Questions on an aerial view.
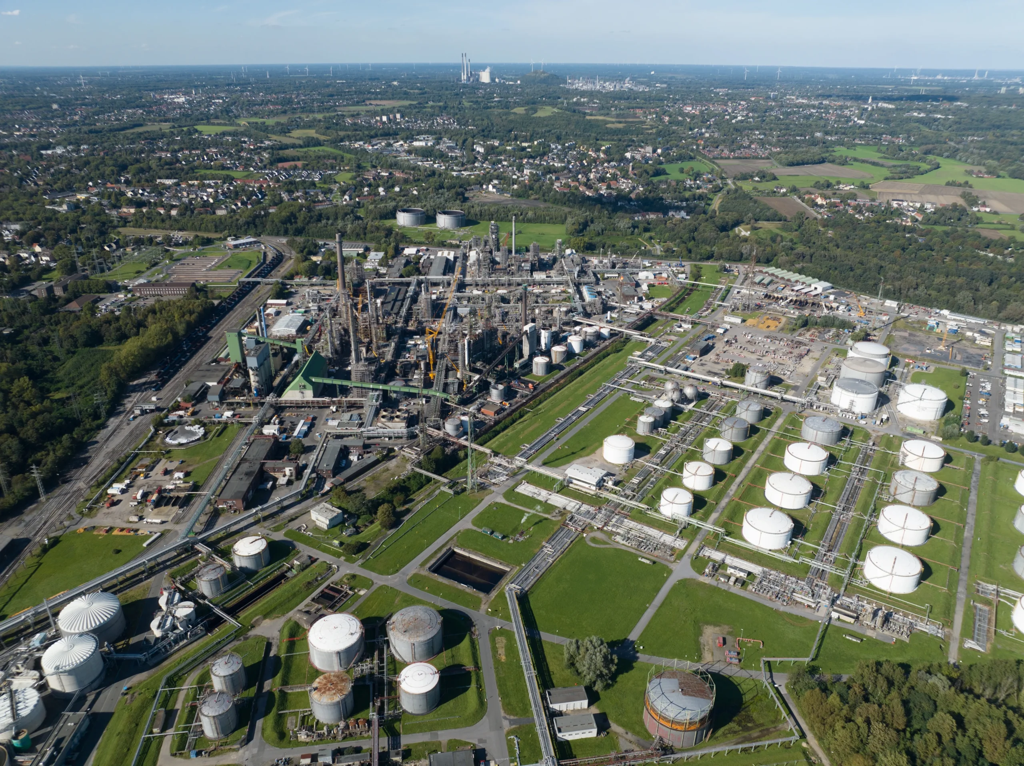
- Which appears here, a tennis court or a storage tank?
storage tank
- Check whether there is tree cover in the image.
Yes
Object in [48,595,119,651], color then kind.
white storage tank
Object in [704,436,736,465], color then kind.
white storage tank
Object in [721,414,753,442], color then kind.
gray storage tank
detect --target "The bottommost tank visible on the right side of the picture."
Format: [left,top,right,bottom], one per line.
[651,665,721,750]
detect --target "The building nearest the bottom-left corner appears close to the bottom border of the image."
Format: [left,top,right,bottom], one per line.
[28,712,94,766]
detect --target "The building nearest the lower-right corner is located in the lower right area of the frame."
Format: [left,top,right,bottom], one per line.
[830,604,858,630]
